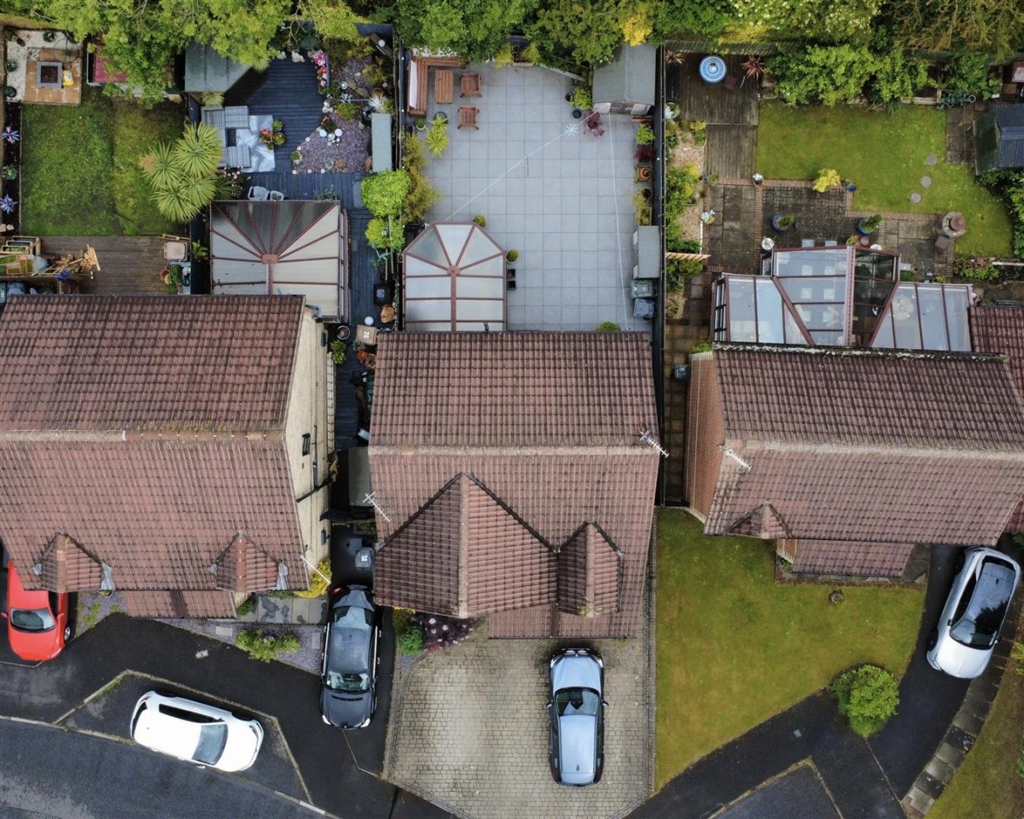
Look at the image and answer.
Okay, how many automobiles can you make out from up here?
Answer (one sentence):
In total, there are 5 automobiles in the scene.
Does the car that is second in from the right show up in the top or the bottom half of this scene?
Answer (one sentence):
Seen from above, the car that is second in from the right lies in the bottom half of the view.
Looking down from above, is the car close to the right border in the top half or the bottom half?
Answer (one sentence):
The bottom half of the photo is where the car close to the right border is.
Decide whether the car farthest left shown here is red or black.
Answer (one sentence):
In this view, the car farthest left is red.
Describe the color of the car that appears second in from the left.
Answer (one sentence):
The color of the car that appears second in from the left is white.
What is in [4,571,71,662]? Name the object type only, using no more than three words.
car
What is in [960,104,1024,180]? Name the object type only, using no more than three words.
shed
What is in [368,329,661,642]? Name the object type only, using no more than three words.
house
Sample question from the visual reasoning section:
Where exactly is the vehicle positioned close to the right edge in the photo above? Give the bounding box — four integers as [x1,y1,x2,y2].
[926,546,1018,677]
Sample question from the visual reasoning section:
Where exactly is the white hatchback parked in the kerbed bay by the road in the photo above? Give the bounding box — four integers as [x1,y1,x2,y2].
[132,690,264,773]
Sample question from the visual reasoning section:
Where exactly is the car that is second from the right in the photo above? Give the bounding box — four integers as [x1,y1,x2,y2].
[544,648,610,787]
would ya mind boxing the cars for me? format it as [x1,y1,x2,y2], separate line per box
[315,585,382,727]
[4,571,71,662]
[132,690,264,773]
[926,546,1018,677]
[544,648,610,787]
